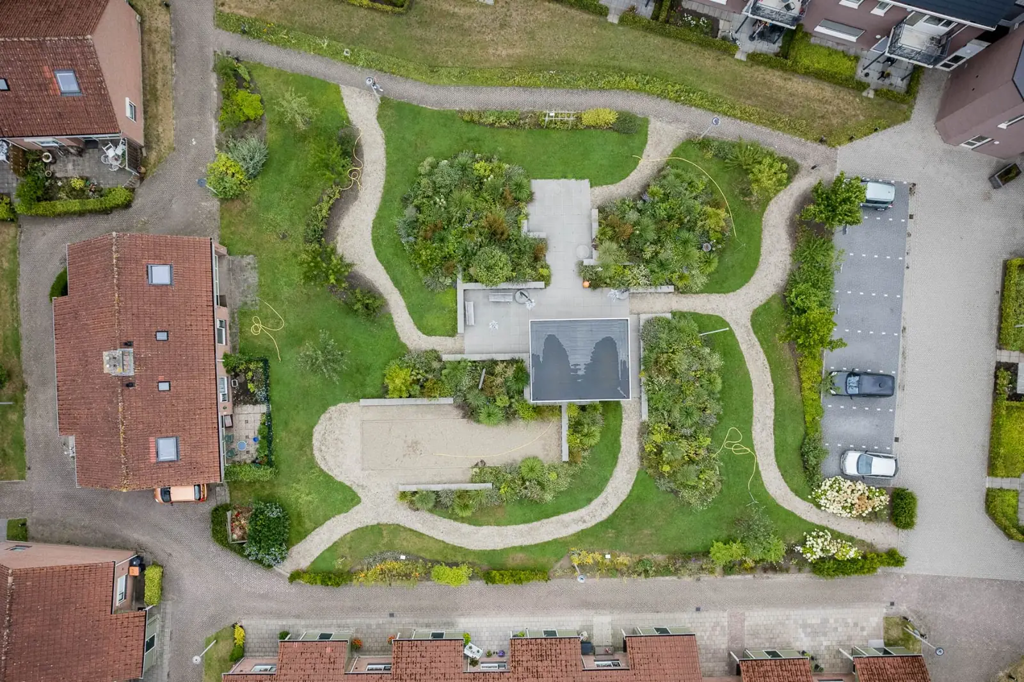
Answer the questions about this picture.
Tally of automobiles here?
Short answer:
4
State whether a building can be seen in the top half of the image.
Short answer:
Yes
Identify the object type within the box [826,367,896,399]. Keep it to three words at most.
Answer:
car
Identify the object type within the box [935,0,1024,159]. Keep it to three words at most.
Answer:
building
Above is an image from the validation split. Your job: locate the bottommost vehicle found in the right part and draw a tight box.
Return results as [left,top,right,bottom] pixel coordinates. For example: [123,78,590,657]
[836,449,899,480]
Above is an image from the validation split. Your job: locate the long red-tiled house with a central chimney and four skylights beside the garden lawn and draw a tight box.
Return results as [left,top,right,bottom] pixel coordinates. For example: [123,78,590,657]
[51,231,234,493]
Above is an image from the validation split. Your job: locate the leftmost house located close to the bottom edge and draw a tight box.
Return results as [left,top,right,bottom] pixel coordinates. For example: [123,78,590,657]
[0,537,154,682]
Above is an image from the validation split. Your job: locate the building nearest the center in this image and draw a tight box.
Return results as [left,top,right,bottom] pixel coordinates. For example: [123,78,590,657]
[529,318,632,403]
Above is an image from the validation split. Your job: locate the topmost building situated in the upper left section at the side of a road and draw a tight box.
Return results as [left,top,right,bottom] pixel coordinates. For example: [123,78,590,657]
[0,0,145,147]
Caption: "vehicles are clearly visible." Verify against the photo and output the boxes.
[836,449,899,480]
[155,485,208,506]
[832,181,897,210]
[826,367,896,399]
